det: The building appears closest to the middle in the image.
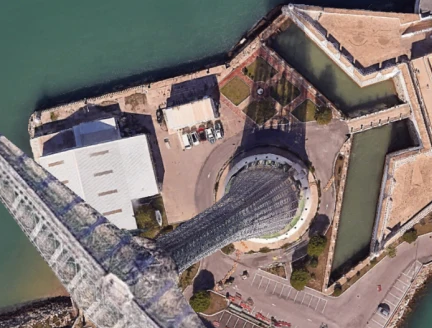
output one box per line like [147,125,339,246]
[161,95,223,148]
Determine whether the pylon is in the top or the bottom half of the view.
bottom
